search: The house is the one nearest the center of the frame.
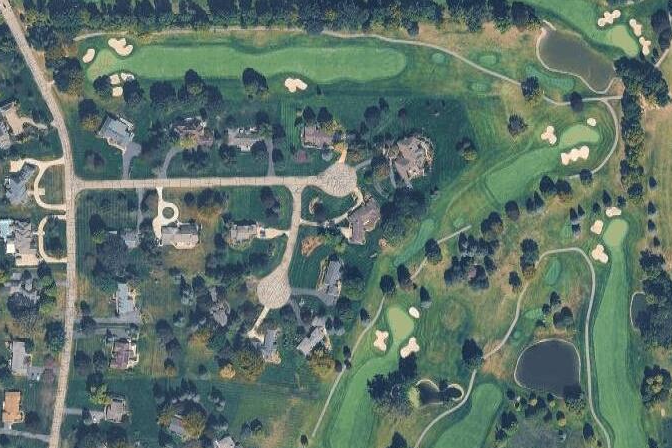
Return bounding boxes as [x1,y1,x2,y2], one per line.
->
[352,196,379,242]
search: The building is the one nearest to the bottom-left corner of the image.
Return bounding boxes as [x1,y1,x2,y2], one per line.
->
[2,389,22,422]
